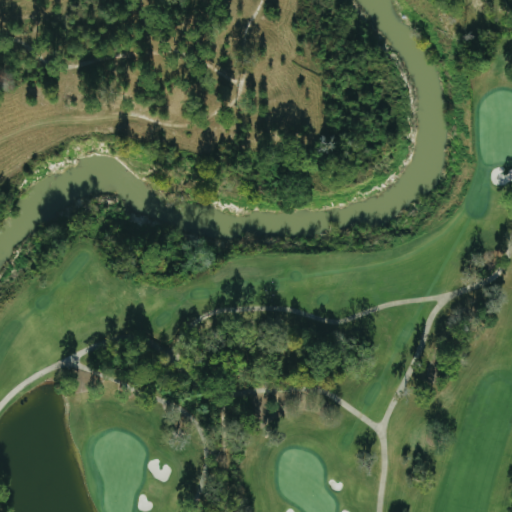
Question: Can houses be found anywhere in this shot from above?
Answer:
No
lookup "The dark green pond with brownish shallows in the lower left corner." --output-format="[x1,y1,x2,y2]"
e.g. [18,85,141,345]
[0,384,96,512]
